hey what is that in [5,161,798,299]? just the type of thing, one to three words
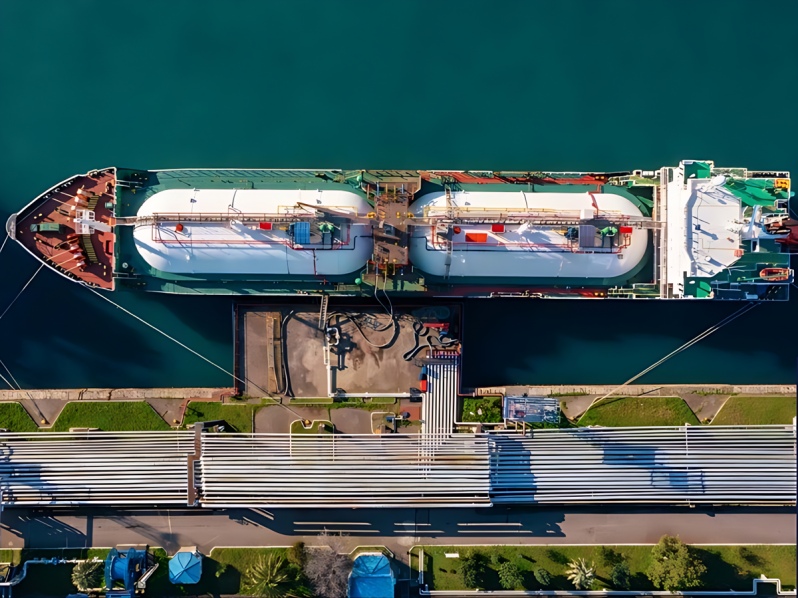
ship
